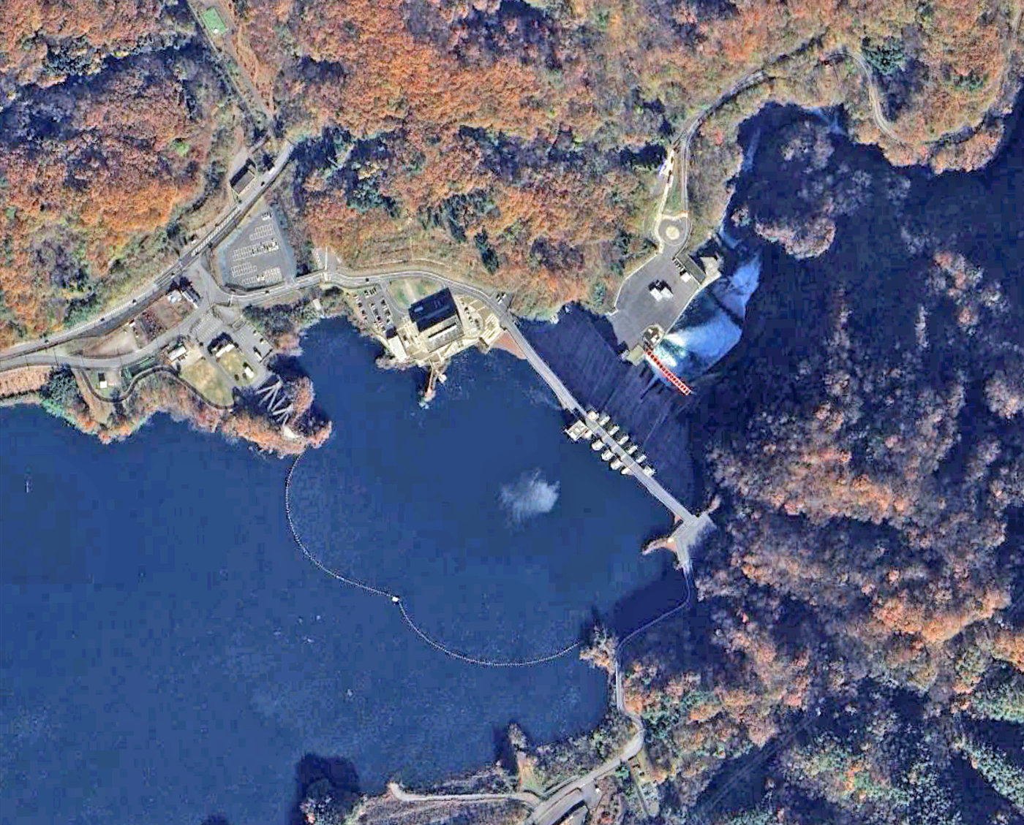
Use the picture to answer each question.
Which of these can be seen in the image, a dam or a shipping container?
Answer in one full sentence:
Visible in the photo is a dam.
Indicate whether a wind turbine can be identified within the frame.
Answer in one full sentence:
No, there is no wind turbine in the image.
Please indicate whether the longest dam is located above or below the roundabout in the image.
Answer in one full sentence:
Looking at the scene, the longest dam is located below the roundabout.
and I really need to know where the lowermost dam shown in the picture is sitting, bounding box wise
[496,305,708,522]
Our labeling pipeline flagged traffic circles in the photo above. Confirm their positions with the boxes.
[656,214,689,257]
